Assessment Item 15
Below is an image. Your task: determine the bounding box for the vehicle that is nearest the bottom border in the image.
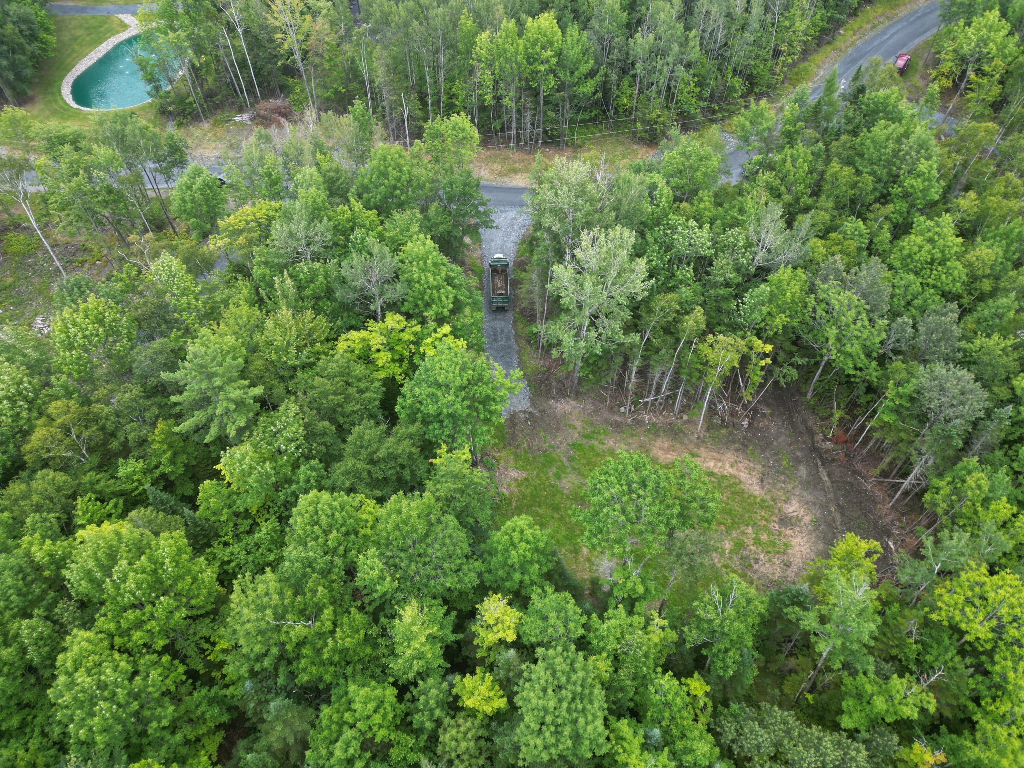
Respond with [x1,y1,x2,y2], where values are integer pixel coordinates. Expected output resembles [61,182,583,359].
[490,254,509,310]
